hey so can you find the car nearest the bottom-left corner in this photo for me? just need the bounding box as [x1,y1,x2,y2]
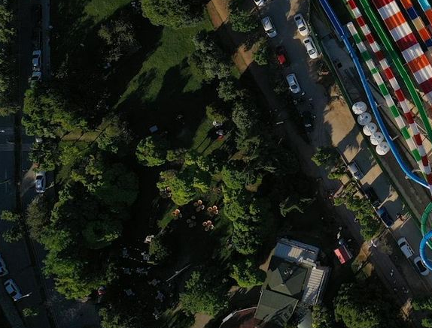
[4,278,23,301]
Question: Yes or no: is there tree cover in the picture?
Yes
